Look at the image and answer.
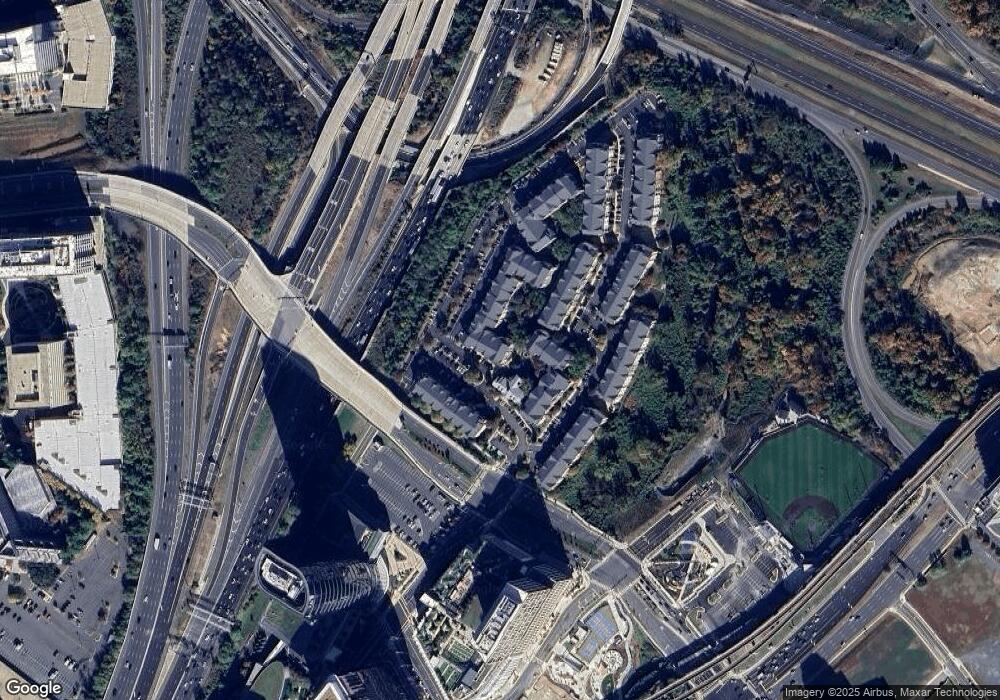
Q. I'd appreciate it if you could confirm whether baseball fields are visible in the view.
Yes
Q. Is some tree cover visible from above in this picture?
Yes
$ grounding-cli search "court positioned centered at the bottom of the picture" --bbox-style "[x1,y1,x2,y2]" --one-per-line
[574,603,618,663]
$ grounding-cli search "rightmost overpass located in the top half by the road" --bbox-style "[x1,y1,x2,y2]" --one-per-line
[542,0,636,134]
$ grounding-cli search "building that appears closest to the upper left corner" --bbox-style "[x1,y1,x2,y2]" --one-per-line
[0,23,62,74]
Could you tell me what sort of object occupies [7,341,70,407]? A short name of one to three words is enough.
building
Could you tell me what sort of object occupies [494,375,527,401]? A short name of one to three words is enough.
building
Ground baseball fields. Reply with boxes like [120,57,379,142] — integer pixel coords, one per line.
[731,420,888,552]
